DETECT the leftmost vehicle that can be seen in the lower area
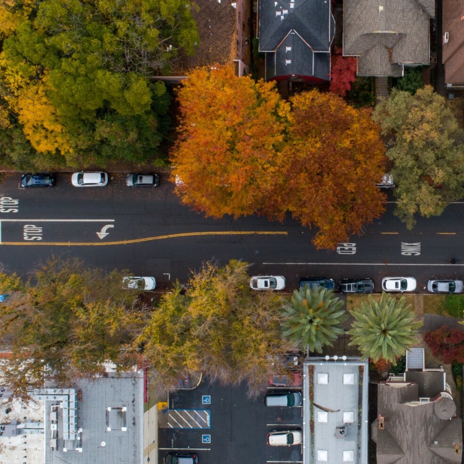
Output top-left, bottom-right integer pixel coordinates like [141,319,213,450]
[121,275,159,291]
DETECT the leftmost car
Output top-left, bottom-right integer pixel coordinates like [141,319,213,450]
[22,172,55,189]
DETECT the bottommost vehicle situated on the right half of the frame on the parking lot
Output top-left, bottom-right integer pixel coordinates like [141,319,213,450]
[267,429,303,448]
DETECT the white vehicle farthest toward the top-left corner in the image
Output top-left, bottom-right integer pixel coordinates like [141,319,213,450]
[72,170,109,188]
